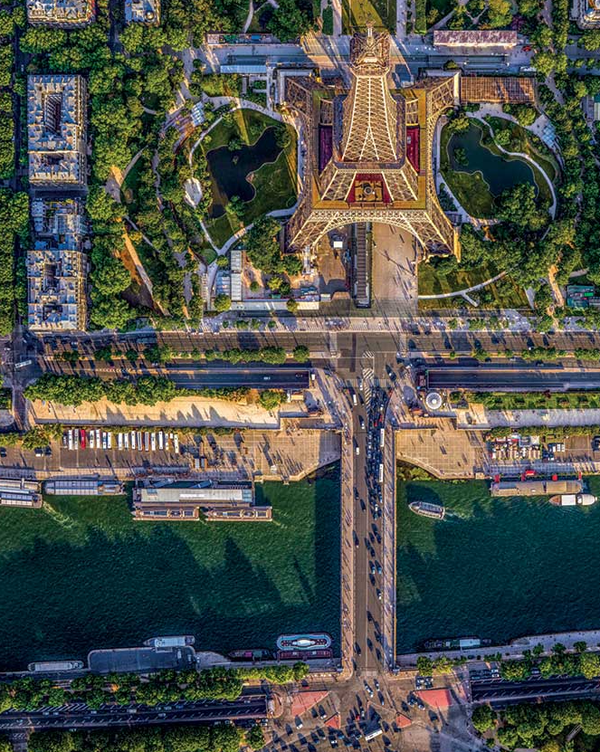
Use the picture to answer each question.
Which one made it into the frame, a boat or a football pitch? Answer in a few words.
boat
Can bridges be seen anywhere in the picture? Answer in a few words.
Yes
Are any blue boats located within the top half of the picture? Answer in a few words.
No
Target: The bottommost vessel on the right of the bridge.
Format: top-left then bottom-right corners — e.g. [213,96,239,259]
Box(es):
[425,637,493,649]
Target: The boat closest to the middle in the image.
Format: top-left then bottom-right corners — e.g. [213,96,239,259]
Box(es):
[206,508,272,520]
